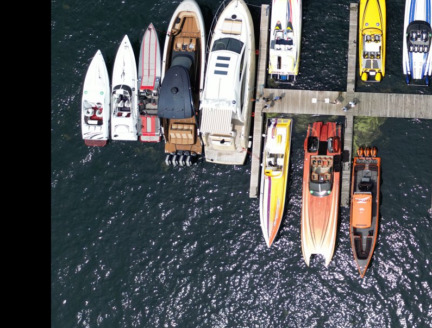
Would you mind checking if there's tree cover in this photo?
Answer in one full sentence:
No, there is no tree cover in the image.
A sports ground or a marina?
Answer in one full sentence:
What you see here is a marina.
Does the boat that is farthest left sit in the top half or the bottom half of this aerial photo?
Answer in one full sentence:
The boat that is farthest left sits in the top half of the picture.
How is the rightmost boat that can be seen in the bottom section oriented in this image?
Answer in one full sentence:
In this picture, the rightmost boat that can be seen in the bottom section lies from top to bottom.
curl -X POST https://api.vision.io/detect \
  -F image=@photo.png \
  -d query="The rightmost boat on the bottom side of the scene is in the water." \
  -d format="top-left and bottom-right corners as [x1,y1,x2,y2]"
[350,146,382,278]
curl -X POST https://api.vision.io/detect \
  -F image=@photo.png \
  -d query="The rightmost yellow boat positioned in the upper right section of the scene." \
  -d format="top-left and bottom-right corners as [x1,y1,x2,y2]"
[360,0,387,81]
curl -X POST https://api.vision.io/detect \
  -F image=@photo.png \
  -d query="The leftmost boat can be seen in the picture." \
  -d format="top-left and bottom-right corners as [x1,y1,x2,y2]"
[84,50,113,146]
